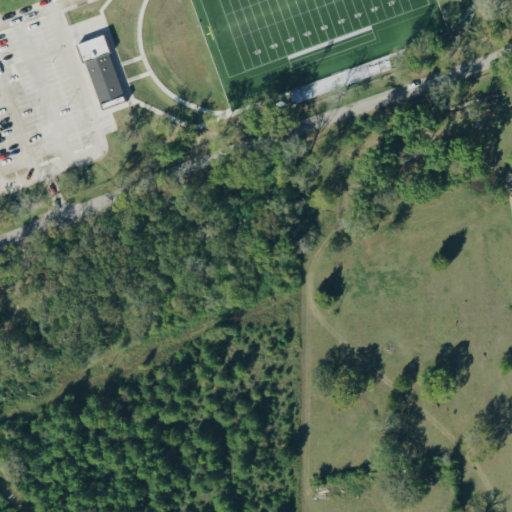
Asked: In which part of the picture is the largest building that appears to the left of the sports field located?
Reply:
top left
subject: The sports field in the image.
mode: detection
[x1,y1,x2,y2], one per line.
[192,0,450,108]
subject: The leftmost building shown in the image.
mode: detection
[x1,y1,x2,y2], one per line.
[76,34,126,108]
